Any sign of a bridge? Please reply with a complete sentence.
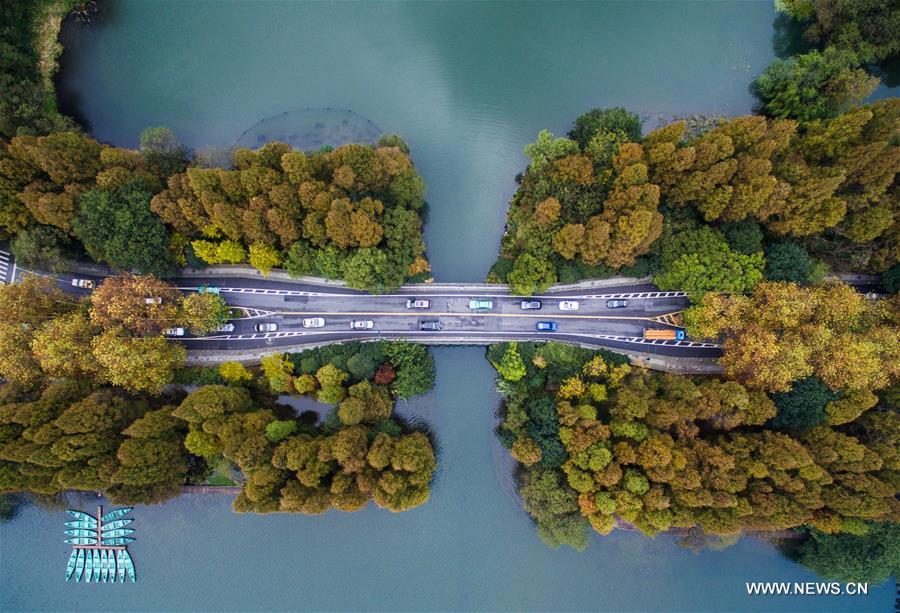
Yes, a bridge appears in the view.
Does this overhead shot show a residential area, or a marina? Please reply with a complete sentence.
This image shows a marina.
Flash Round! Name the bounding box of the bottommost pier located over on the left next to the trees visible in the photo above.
[72,506,127,551]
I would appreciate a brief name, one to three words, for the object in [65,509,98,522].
boat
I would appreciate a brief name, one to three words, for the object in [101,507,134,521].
boat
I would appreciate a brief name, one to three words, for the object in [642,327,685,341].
vehicle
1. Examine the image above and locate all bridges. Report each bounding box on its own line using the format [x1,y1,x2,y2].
[403,281,533,347]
